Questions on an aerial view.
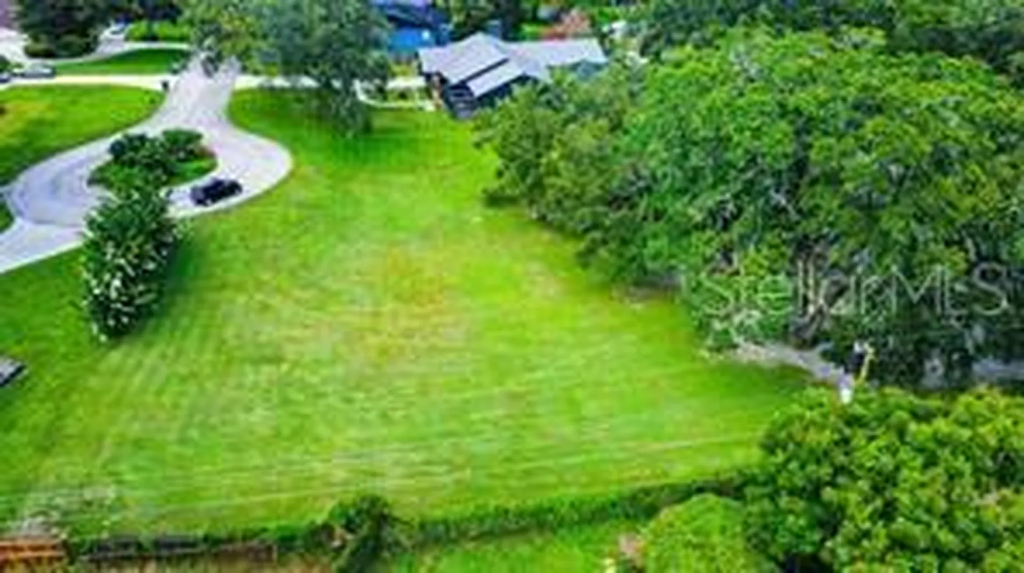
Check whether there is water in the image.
No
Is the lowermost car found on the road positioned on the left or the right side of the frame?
left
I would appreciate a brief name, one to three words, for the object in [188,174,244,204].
car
